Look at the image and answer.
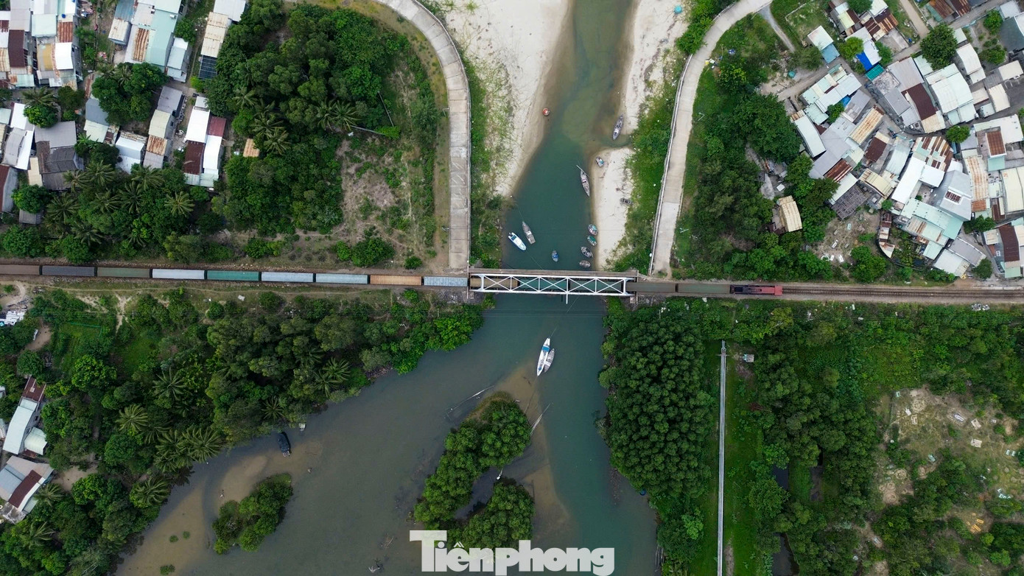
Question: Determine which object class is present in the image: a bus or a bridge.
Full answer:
Visible in the photo is a bridge.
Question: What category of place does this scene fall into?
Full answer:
This looks like a residential area.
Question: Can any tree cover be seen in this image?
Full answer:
Yes, the picture does contain tree cover.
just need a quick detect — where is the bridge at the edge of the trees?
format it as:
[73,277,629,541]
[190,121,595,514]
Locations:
[460,266,646,304]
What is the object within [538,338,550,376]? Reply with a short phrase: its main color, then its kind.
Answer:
white boat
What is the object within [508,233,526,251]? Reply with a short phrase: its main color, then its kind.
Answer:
white boat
